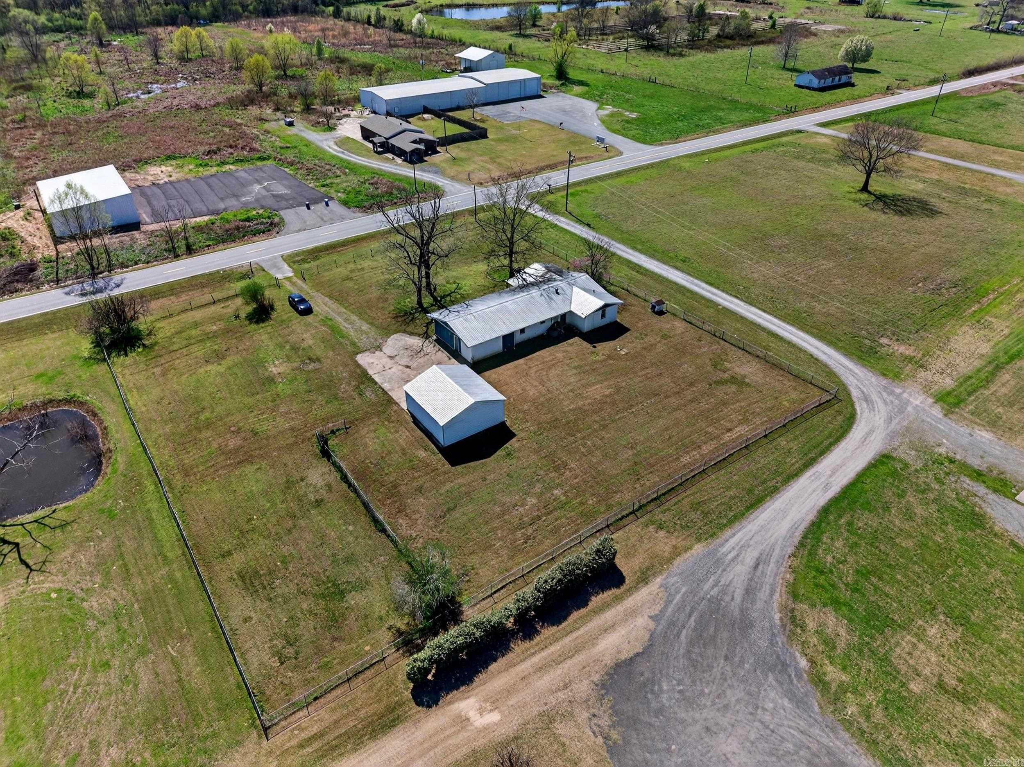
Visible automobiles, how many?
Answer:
1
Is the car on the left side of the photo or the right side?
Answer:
left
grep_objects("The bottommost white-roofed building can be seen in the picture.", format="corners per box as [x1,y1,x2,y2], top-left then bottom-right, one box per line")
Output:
[401,365,509,447]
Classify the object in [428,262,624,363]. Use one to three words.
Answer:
house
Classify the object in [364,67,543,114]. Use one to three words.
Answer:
building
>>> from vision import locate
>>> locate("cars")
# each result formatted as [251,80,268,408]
[287,296,313,316]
